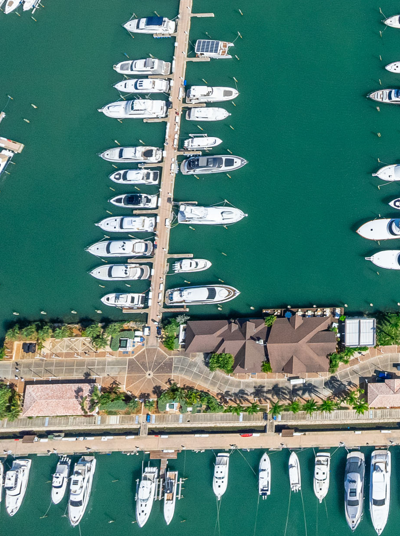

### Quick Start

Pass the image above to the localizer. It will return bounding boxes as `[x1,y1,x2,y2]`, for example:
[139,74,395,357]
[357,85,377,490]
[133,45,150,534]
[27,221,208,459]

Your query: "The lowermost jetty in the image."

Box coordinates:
[150,452,179,478]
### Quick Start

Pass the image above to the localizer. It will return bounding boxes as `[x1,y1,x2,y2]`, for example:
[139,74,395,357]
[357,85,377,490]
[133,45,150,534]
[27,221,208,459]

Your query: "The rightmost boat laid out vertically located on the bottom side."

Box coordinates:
[368,450,392,535]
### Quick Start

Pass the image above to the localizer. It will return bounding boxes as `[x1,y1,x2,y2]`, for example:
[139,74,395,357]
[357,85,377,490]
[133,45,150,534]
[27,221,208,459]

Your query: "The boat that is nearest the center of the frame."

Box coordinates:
[174,259,212,273]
